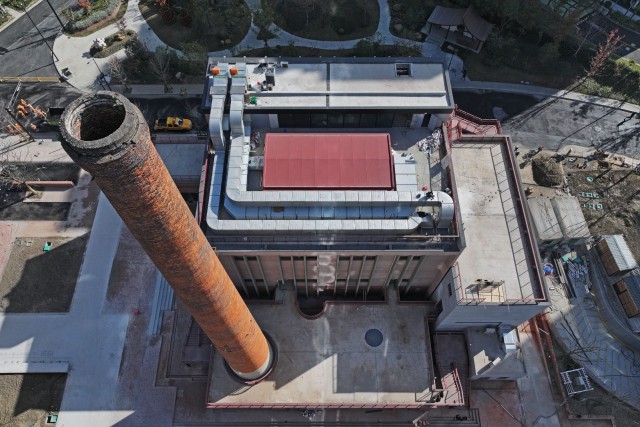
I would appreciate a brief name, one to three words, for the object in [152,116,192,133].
vehicle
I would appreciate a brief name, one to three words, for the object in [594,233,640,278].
building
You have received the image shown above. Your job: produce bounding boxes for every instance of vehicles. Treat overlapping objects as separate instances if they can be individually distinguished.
[152,116,192,133]
[44,109,65,128]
